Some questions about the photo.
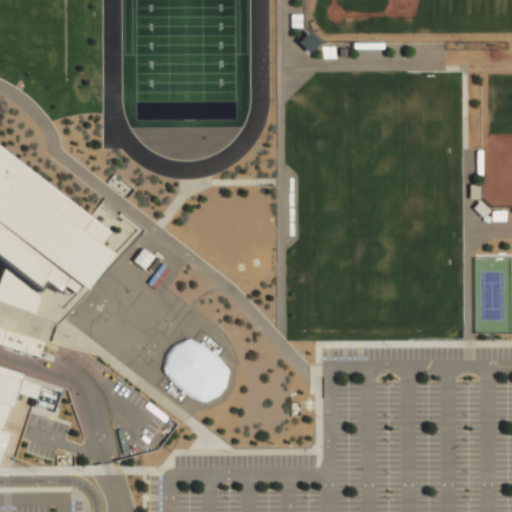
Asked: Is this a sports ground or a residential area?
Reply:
sports ground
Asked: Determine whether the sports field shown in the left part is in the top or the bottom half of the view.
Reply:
top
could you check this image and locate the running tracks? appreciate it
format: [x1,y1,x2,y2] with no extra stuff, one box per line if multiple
[104,0,269,180]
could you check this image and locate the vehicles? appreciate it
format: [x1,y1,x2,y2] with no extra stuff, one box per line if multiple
[144,401,170,424]
[112,383,120,392]
[123,389,131,398]
[118,386,126,396]
[139,430,150,444]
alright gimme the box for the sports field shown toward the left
[124,0,249,128]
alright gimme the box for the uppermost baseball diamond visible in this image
[316,0,512,34]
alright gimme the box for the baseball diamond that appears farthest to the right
[484,74,512,206]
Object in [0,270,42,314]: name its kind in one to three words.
building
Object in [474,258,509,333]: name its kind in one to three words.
tennis court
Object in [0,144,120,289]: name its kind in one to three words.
building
